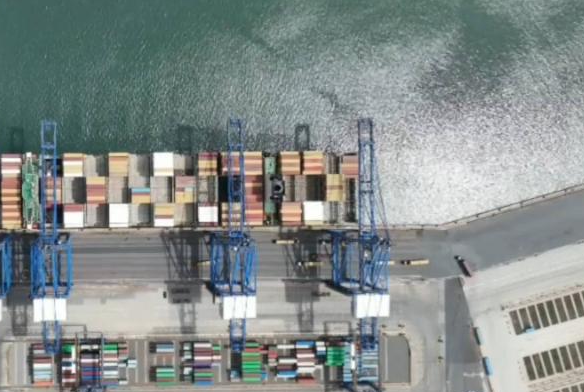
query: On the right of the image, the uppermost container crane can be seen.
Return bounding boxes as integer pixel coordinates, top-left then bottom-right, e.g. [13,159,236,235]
[323,117,394,349]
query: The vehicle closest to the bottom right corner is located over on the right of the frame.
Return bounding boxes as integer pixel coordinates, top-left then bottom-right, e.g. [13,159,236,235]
[456,257,475,278]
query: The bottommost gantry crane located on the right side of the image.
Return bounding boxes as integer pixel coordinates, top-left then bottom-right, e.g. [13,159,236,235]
[341,325,384,392]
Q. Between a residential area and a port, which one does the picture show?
port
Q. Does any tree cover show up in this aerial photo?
No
